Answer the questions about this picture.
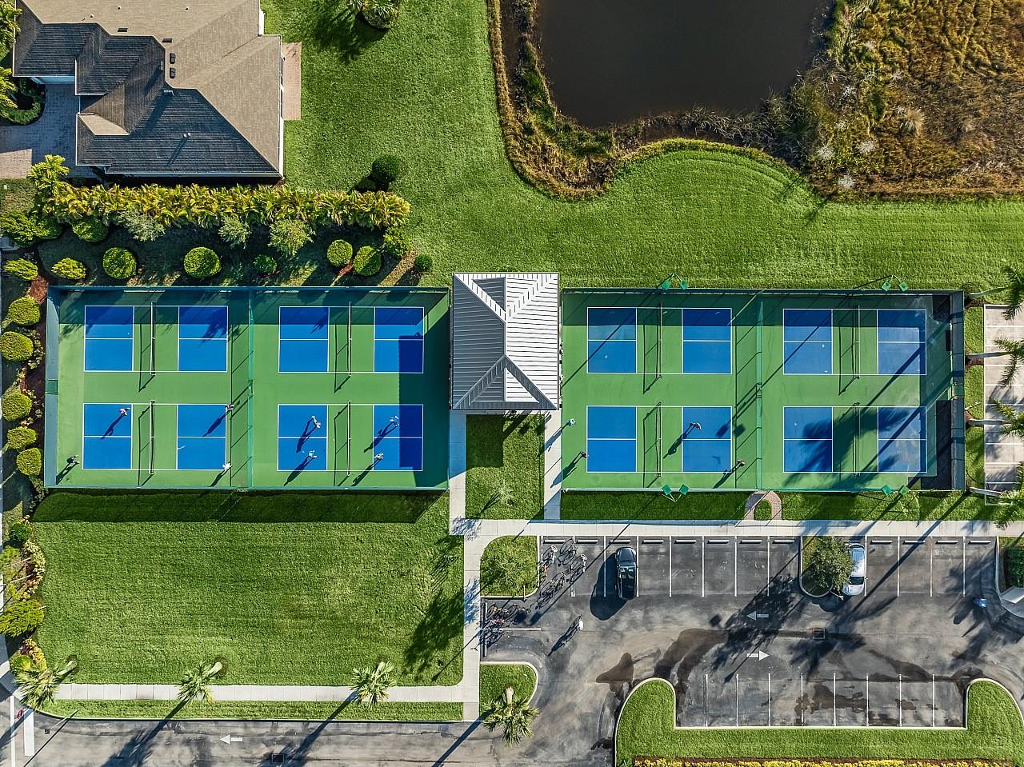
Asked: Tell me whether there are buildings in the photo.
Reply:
Yes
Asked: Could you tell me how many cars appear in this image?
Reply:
2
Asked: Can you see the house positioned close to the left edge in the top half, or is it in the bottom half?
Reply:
top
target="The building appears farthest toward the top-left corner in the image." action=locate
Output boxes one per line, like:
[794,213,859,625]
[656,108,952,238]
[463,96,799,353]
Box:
[12,0,286,176]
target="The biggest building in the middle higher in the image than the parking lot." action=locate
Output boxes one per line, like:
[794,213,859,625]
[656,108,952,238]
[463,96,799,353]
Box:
[452,272,560,411]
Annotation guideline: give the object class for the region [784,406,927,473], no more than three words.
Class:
sports court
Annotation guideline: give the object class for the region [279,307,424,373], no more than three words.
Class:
sports court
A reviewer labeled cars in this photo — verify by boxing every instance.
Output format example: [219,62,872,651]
[614,547,639,599]
[842,543,868,595]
